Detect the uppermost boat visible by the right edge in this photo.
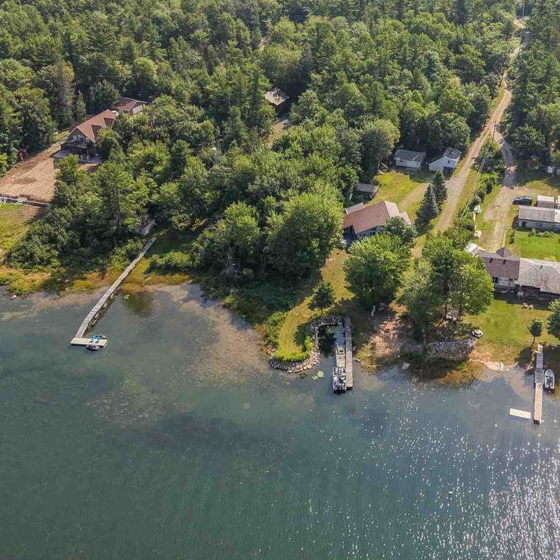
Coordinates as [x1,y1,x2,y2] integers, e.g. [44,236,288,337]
[545,368,557,392]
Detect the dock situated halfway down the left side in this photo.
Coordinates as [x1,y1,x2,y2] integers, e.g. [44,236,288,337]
[68,238,160,349]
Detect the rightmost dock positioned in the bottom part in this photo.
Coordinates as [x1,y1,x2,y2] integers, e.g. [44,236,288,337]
[534,343,546,424]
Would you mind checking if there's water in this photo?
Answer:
Yes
